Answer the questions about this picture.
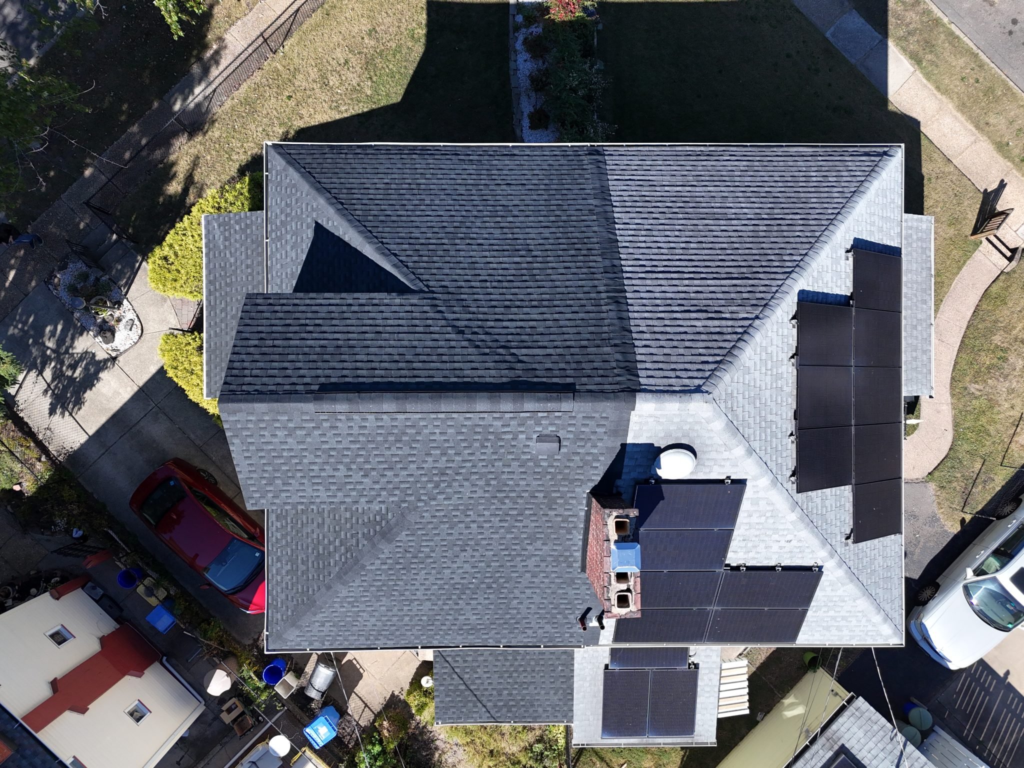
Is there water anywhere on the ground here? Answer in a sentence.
No, there is no water in the image.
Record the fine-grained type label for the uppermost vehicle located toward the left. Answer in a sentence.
I'd say the uppermost vehicle located toward the left is an automobile.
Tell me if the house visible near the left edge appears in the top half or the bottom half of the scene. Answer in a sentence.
Seen from above, the house visible near the left edge lies in the bottom half of the view.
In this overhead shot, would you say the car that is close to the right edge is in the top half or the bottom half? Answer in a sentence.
It is in the bottom half that the car that is close to the right edge appears.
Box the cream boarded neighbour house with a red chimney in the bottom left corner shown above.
[0,592,205,768]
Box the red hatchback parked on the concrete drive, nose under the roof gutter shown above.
[131,454,264,607]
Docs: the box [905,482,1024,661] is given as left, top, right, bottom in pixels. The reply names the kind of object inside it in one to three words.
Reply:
car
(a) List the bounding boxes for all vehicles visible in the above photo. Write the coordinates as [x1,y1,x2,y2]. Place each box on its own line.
[905,482,1024,661]
[131,454,264,607]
